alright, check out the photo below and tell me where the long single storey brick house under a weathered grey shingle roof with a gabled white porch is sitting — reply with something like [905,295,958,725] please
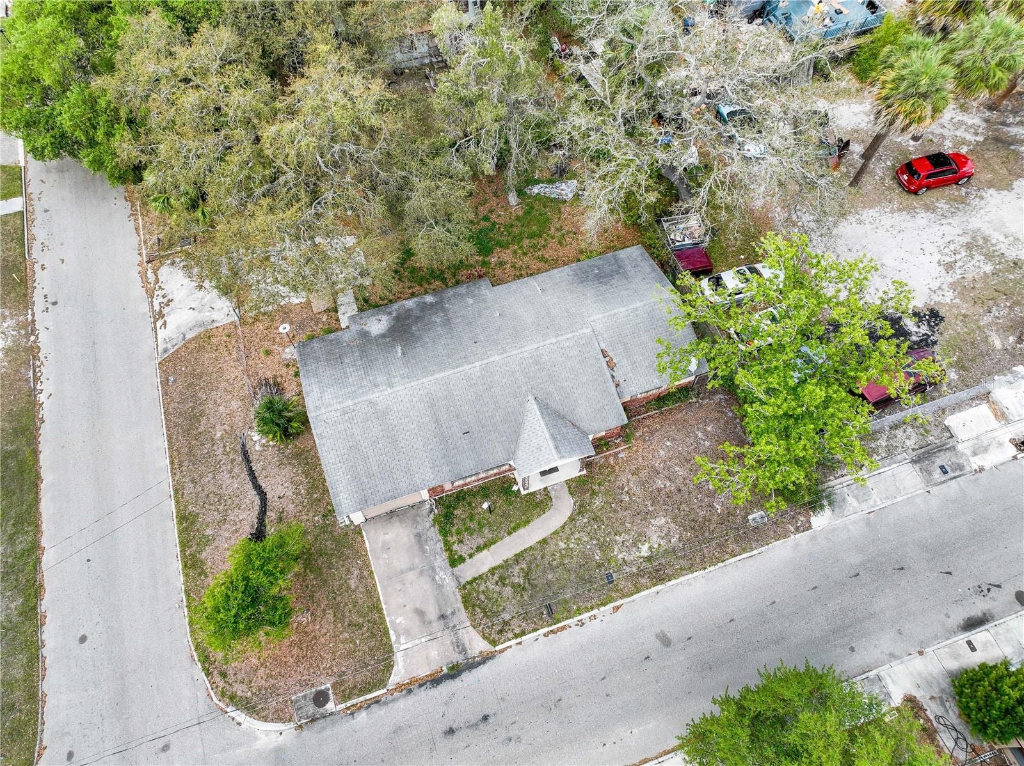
[296,247,707,527]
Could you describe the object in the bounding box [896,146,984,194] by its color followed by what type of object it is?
red car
